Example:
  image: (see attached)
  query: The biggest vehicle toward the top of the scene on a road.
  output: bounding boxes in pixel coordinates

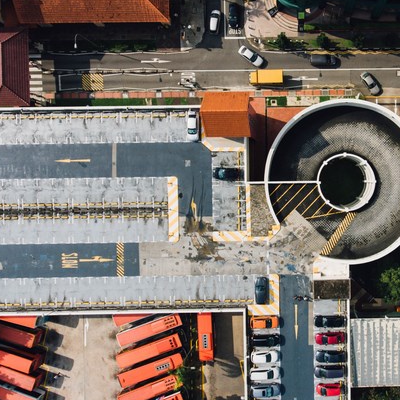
[251,70,284,88]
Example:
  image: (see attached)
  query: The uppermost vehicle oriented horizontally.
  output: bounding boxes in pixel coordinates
[310,53,338,66]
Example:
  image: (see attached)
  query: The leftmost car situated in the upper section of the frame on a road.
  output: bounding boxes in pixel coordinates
[209,10,222,35]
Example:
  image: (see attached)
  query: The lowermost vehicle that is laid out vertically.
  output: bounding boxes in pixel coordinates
[198,314,217,359]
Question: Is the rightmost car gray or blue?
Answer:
gray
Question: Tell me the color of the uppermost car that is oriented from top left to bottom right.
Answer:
white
